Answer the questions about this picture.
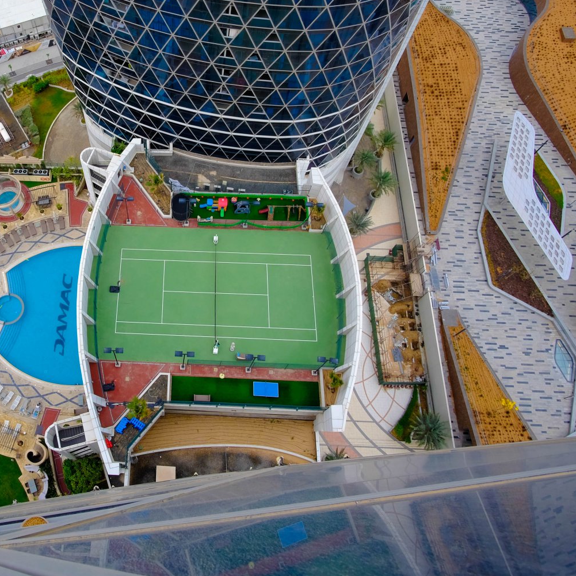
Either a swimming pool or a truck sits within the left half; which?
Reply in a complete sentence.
There is a swimming pool within the left half.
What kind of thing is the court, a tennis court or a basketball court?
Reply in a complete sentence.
Specifically, the court is a tennis court.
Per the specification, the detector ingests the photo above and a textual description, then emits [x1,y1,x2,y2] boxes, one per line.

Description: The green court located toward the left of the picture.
[87,227,345,365]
